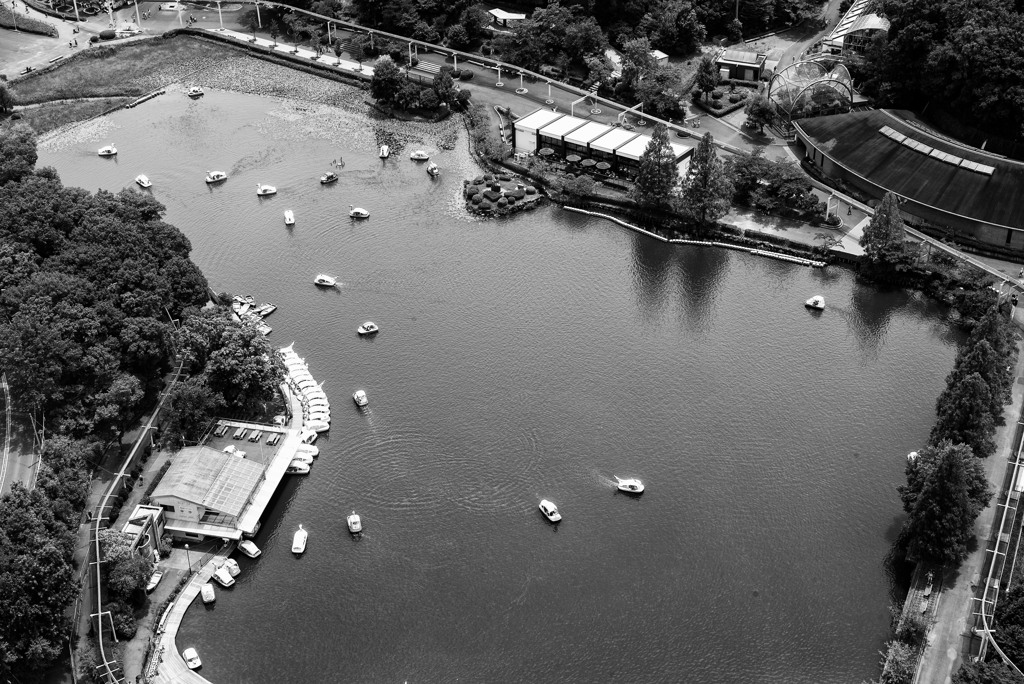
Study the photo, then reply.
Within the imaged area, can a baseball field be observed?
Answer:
No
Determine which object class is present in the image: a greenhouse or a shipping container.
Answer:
greenhouse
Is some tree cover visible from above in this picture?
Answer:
Yes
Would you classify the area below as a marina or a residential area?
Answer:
marina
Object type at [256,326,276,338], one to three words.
boat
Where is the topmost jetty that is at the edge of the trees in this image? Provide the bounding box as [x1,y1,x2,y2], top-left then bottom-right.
[280,378,302,434]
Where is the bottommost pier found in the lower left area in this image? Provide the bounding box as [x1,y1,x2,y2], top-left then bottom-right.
[151,546,247,684]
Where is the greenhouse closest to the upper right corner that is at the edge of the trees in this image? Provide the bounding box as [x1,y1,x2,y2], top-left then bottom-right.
[845,15,902,65]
